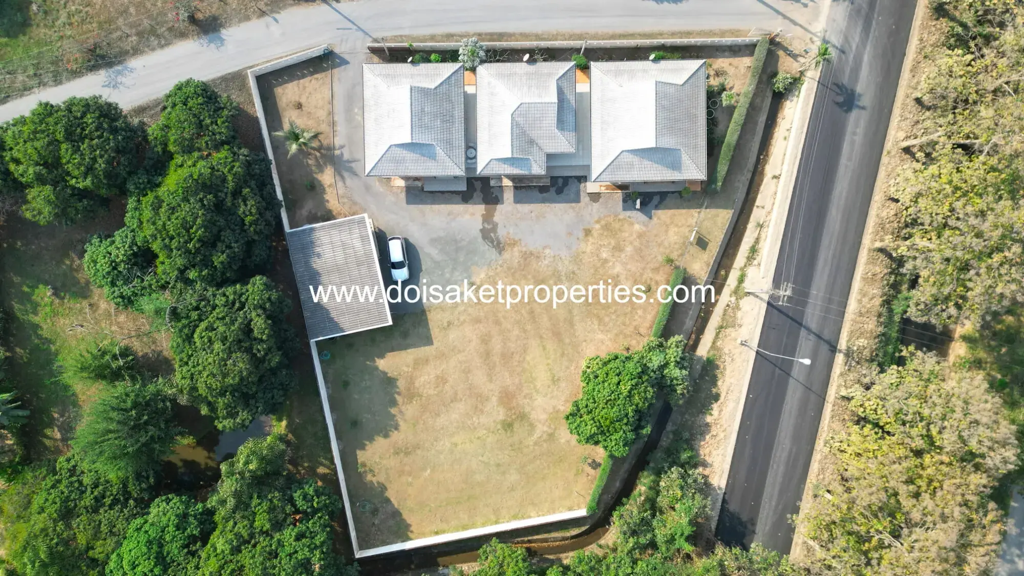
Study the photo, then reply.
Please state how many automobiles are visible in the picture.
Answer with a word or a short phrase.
1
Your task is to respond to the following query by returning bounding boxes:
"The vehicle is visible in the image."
[387,237,410,281]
